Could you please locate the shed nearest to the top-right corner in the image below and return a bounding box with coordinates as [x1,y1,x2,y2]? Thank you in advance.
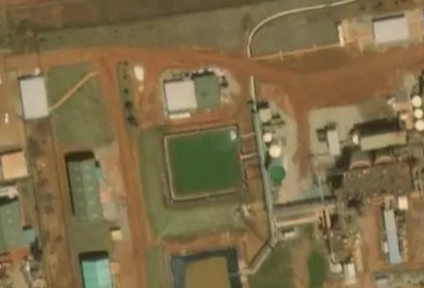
[374,17,410,44]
